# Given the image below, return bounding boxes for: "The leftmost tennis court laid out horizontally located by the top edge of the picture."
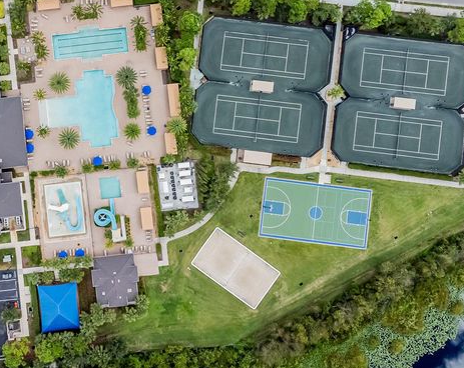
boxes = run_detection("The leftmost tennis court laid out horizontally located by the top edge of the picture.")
[198,18,331,93]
